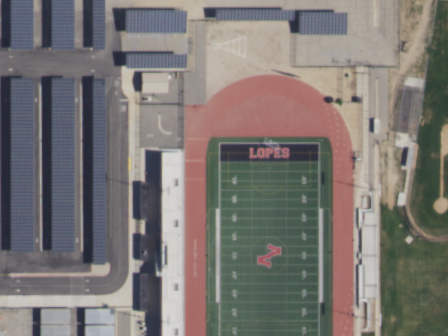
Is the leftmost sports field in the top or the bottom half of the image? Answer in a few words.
bottom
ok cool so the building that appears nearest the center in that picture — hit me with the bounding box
[140,182,160,219]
